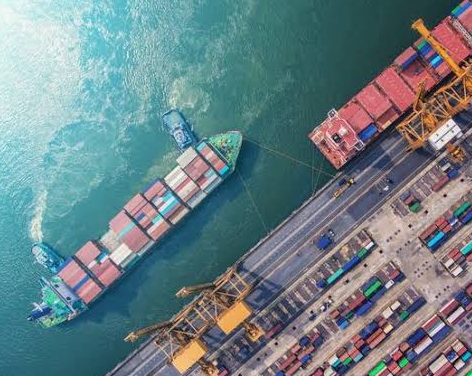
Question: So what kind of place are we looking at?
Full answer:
What you see here is a port.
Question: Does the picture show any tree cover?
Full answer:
No, tree cover can't be seen anywhere here.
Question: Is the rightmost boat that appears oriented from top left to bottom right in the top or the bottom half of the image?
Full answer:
The rightmost boat that appears oriented from top left to bottom right is in the top half of the image.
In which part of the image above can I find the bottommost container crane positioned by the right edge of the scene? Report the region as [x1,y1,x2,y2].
[395,79,467,162]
